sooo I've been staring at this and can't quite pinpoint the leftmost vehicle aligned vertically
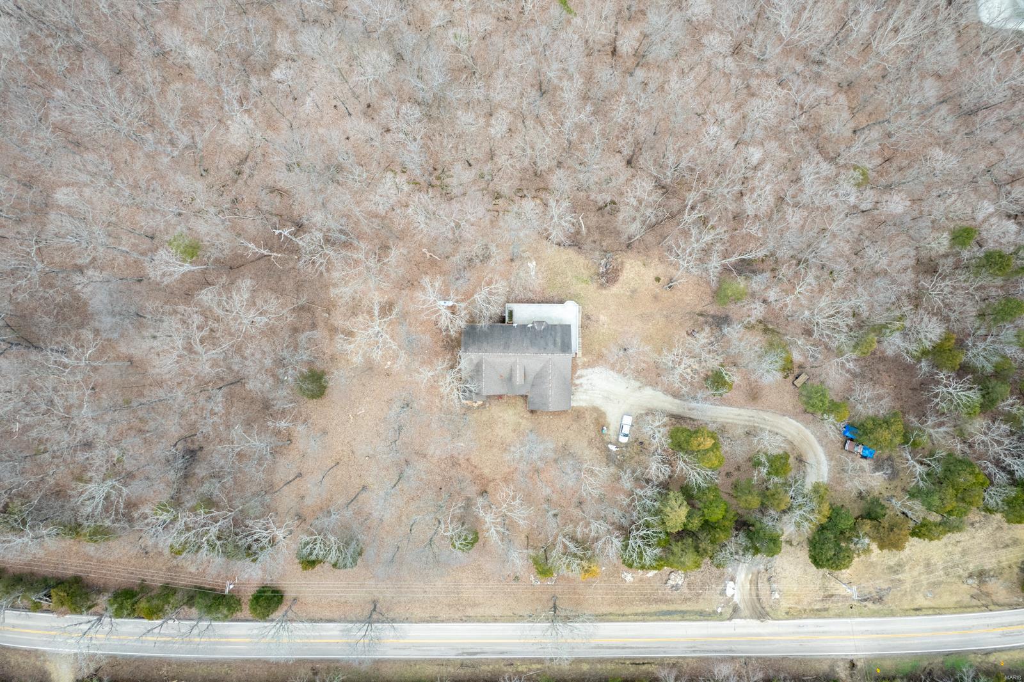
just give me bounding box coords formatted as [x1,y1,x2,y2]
[617,414,632,442]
